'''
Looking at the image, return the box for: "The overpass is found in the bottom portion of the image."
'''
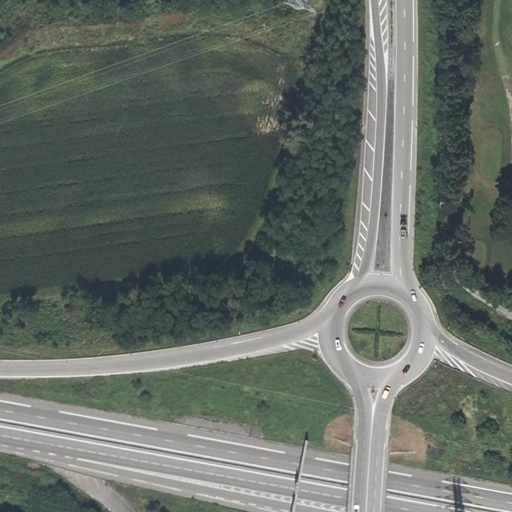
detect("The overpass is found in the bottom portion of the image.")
[348,444,390,512]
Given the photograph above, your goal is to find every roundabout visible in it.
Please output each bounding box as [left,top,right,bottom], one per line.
[317,271,438,392]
